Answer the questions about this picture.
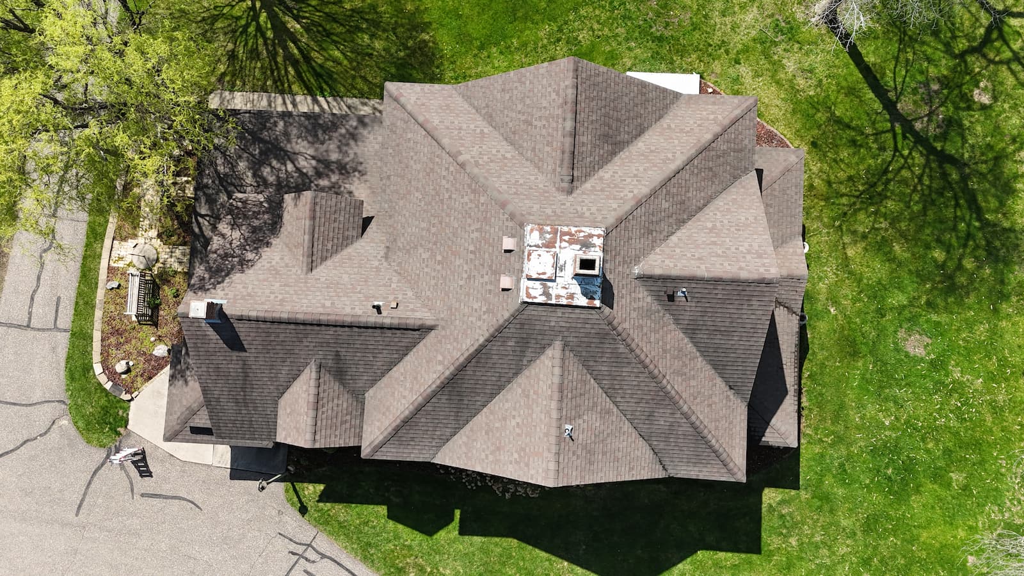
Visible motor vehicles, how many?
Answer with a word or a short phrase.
0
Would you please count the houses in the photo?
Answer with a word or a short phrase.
1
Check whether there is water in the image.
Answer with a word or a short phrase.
No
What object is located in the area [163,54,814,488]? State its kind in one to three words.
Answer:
house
